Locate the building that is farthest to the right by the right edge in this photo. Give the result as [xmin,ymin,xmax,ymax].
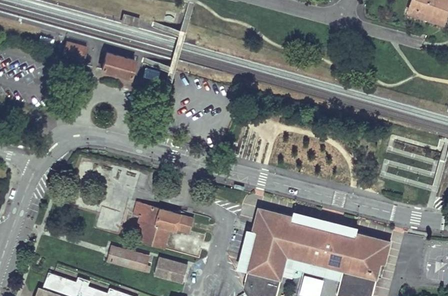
[406,0,448,28]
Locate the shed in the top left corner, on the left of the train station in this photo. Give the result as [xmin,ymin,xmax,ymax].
[62,42,88,60]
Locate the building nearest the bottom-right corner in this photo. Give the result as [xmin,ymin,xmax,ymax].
[236,207,392,296]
